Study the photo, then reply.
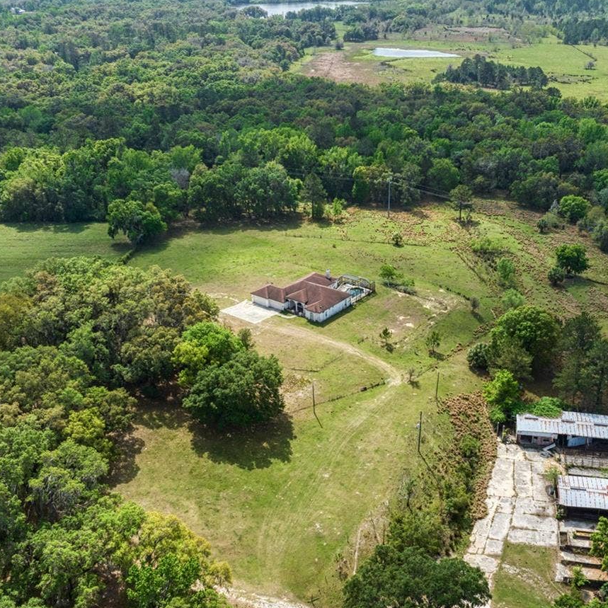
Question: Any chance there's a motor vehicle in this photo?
No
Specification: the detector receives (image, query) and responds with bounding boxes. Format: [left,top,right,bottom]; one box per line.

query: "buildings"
[514,409,608,452]
[555,474,608,523]
[248,271,354,323]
